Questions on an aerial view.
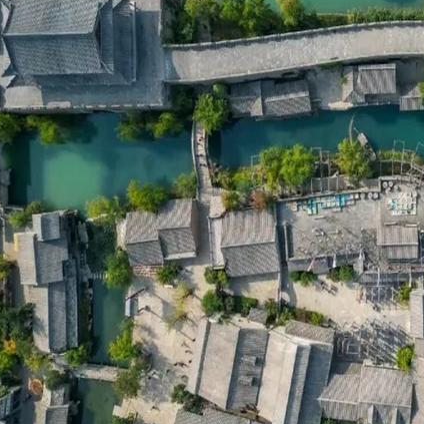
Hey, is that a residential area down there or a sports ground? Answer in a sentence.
This looks like a residential area.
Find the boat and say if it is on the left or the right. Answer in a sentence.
The boat appears in the right half of the scene.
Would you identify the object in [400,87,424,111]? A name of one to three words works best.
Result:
house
